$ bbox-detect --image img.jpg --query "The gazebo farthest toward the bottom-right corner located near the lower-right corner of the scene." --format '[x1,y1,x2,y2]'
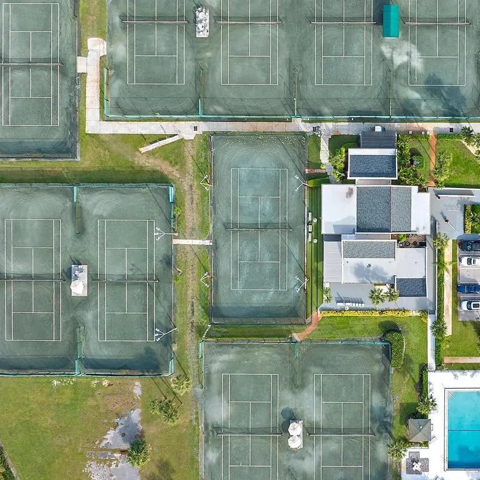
[408,419,431,443]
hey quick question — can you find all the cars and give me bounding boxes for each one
[460,240,480,251]
[461,299,480,311]
[460,256,480,266]
[456,283,480,293]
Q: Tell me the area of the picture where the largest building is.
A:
right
